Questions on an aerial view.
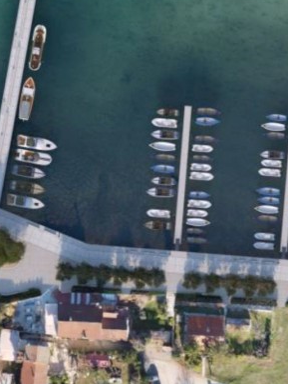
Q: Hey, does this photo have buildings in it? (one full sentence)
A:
Yes, there's a building here.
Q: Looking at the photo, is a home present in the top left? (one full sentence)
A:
No, no home appears in the top left.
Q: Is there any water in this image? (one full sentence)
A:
Yes, there's water in this view.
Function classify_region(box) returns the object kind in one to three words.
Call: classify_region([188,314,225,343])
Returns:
house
